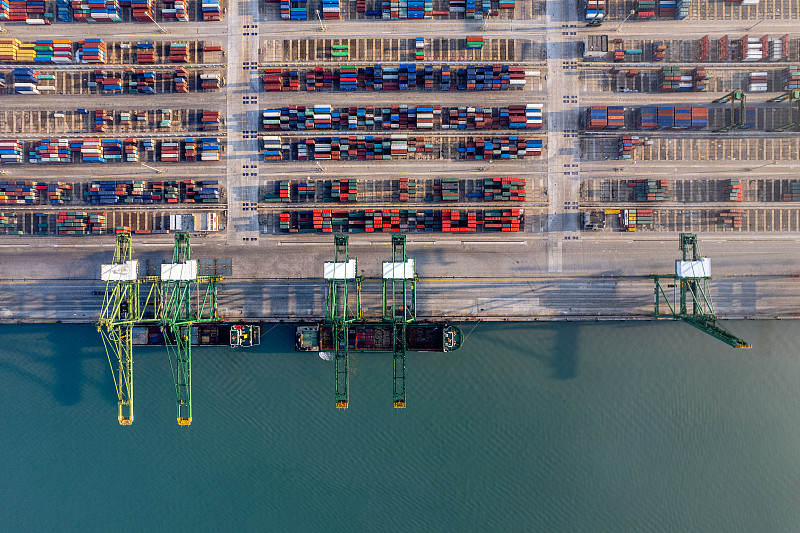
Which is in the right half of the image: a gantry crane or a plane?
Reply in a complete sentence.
Visible in the right half of the image is a gantry crane.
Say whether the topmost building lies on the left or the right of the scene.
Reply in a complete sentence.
It is on the right.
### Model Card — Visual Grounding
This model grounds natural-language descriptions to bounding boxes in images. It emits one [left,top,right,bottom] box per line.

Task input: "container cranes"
[765,91,800,134]
[644,235,751,352]
[380,237,419,410]
[712,91,745,134]
[324,237,366,410]
[163,237,225,425]
[99,238,171,425]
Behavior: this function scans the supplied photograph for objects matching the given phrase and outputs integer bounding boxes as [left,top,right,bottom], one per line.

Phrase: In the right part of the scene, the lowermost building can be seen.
[579,209,605,229]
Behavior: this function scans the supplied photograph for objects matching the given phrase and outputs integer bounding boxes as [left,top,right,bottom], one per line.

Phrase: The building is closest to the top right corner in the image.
[582,35,609,58]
